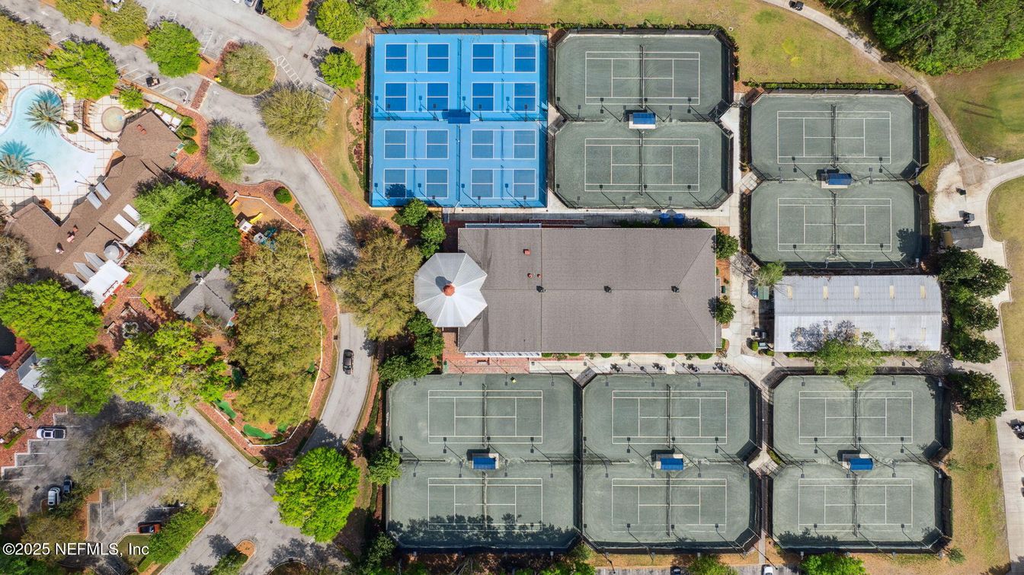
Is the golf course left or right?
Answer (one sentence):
You can find the golf course on the right side of the picture.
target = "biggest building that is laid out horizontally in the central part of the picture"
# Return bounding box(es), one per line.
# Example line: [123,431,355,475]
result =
[414,222,723,358]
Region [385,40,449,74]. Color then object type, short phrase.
blue sports court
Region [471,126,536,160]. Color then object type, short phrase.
blue sports court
